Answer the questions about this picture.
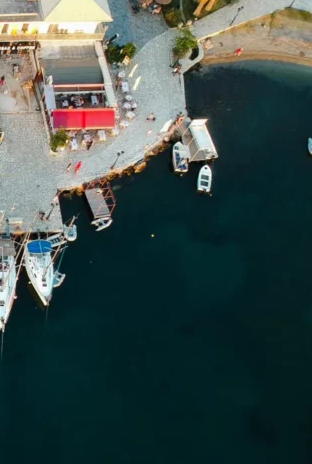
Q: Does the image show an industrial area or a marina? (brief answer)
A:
marina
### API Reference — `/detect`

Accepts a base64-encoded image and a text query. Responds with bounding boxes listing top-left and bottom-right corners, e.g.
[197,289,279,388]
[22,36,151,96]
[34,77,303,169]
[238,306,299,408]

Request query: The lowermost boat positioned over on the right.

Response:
[198,167,211,194]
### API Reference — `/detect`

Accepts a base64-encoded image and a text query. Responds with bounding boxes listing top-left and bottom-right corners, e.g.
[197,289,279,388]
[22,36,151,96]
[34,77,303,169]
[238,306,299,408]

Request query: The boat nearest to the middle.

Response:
[90,218,113,232]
